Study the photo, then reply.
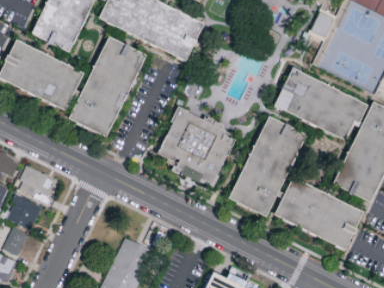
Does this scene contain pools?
Yes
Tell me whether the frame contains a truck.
No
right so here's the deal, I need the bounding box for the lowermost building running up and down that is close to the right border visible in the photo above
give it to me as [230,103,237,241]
[336,102,384,202]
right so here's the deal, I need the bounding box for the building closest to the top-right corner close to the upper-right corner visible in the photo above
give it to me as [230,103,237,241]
[310,12,337,40]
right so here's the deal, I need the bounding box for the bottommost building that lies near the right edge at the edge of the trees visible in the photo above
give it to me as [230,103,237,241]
[275,182,365,252]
